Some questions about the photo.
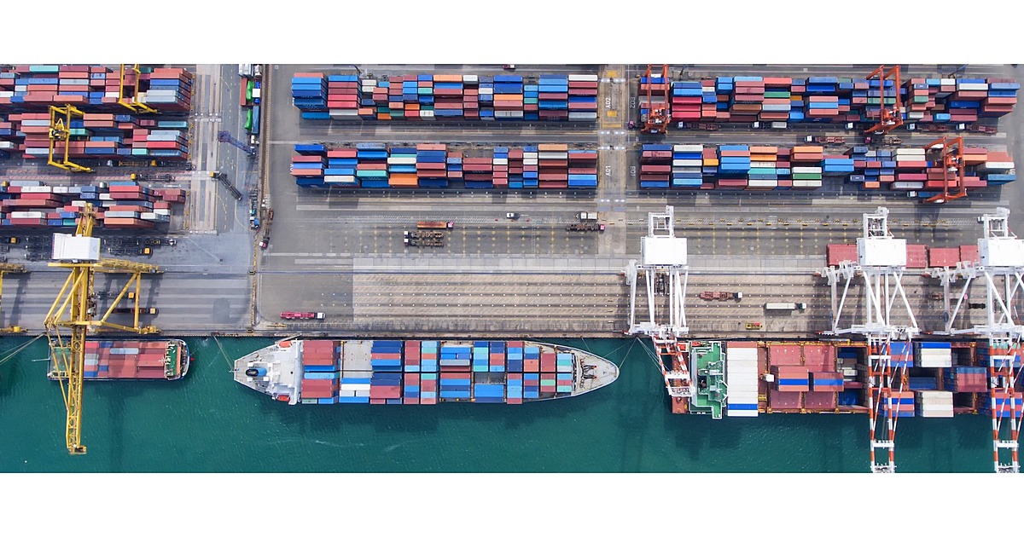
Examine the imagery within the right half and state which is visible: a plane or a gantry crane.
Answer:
gantry crane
